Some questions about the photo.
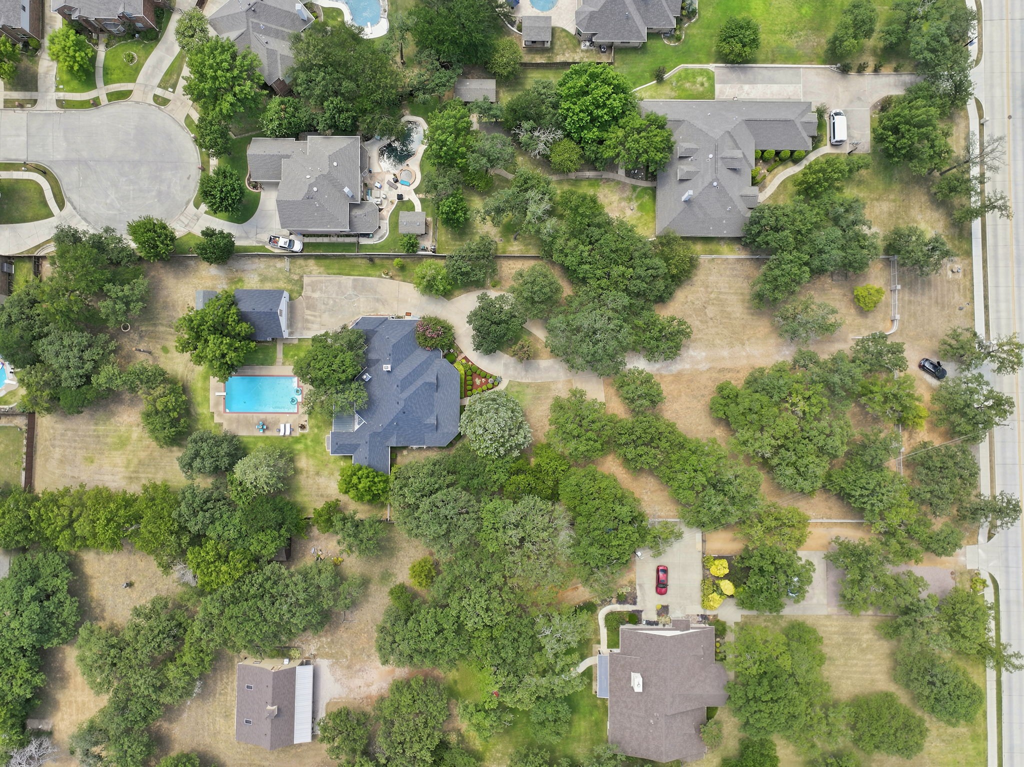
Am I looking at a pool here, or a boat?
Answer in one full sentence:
Of the two, only a pool appears.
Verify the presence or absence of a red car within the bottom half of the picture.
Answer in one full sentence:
Yes, a red car shows up within the bottom half of the picture.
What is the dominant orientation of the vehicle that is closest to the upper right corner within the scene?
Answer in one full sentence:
In this picture, the vehicle that is closest to the upper right corner is oriented from top to bottom.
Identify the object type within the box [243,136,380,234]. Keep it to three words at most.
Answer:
house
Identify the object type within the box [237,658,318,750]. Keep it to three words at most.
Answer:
barn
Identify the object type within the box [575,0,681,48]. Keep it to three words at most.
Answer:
house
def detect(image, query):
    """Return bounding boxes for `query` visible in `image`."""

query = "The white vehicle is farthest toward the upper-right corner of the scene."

[829,108,849,147]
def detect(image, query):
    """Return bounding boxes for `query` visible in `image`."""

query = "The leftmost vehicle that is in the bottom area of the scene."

[654,564,670,595]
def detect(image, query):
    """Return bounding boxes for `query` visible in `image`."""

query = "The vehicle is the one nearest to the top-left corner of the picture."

[265,234,305,253]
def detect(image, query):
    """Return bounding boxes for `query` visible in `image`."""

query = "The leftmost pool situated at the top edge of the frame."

[311,0,389,38]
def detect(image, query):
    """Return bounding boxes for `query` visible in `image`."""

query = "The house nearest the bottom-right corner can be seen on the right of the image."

[598,616,729,767]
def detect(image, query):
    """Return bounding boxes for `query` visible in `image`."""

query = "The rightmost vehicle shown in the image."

[915,357,949,378]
